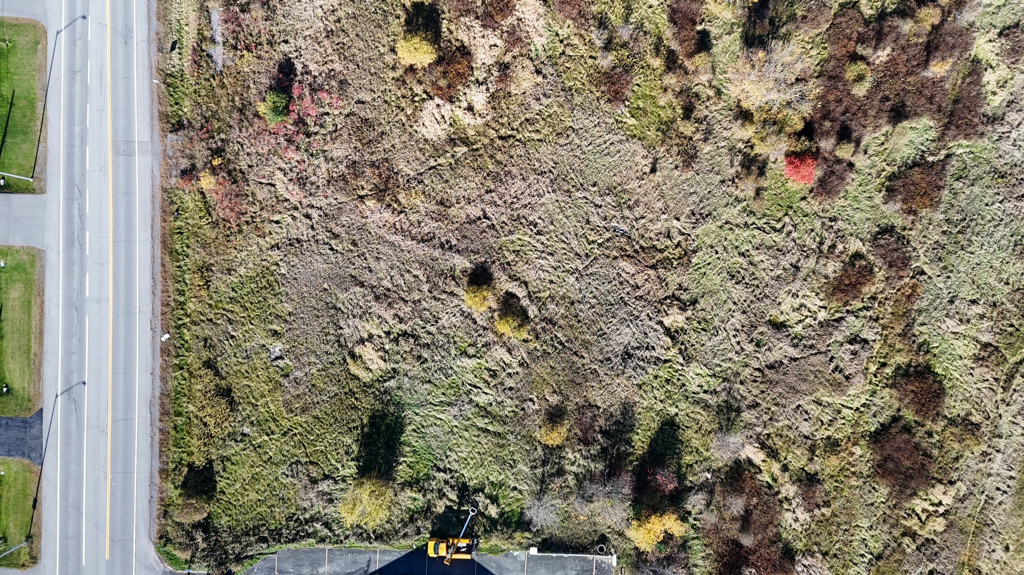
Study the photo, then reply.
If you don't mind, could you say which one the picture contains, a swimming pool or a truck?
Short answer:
truck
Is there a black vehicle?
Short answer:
No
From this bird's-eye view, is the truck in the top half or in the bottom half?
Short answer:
bottom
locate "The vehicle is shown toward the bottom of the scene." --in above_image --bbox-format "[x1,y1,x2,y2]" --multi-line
[427,505,478,566]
